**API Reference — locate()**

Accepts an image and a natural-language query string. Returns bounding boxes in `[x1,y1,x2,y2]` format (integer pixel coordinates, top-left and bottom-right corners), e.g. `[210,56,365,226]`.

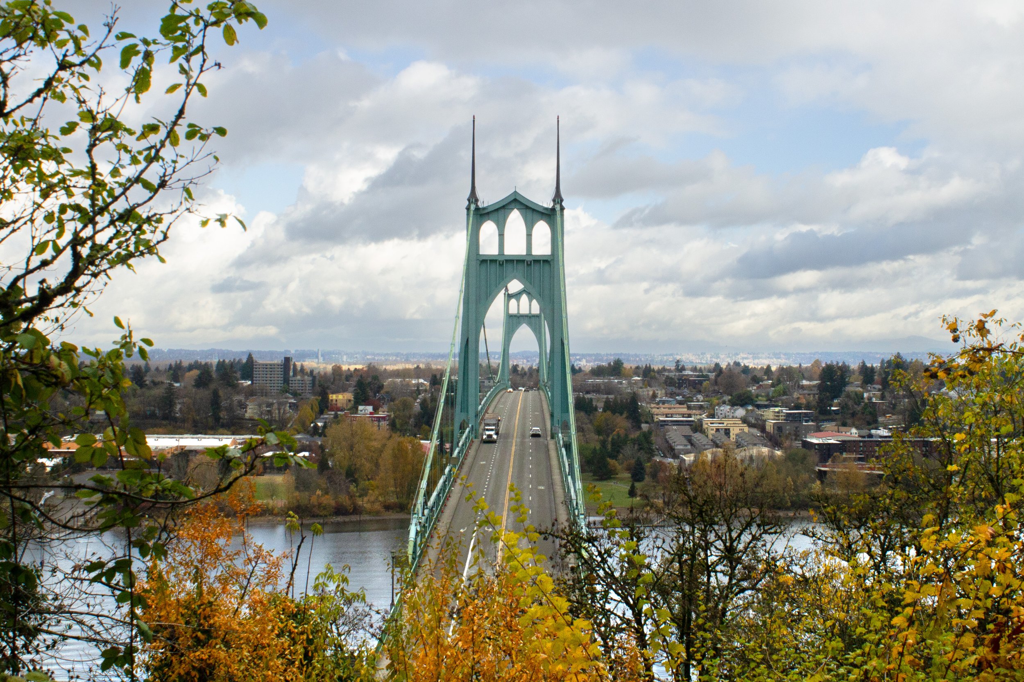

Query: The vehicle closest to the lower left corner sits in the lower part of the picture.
[483,419,498,443]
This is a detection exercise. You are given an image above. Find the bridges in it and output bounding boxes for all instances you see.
[363,115,595,682]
